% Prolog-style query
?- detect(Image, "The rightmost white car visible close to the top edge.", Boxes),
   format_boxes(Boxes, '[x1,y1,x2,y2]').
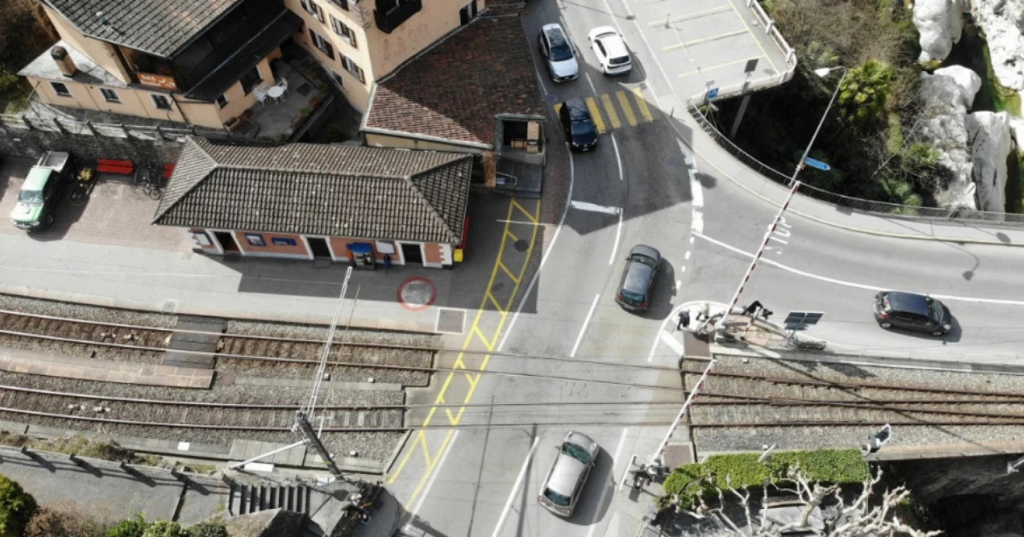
[591,20,636,75]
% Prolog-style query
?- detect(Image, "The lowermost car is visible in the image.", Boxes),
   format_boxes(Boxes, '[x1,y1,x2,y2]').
[539,426,602,519]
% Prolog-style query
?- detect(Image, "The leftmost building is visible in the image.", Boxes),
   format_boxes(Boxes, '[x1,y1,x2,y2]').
[11,0,299,128]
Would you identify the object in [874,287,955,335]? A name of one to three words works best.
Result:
car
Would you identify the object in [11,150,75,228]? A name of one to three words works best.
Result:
vehicle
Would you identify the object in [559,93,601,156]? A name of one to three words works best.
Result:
car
